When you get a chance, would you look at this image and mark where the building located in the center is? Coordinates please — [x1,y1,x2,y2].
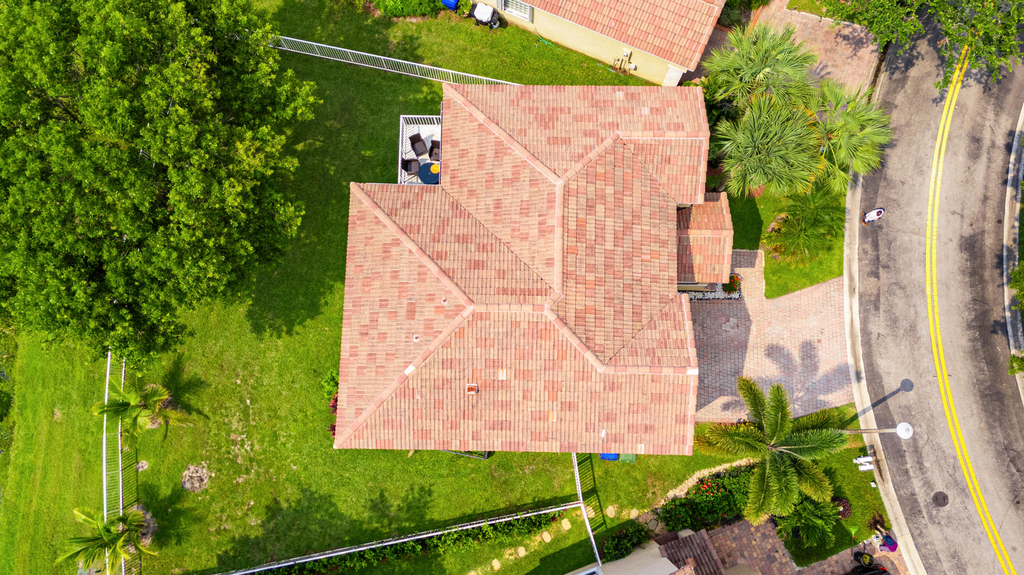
[333,82,734,458]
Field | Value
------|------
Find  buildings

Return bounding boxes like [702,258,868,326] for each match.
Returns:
[333,82,734,458]
[469,0,730,85]
[561,527,732,575]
